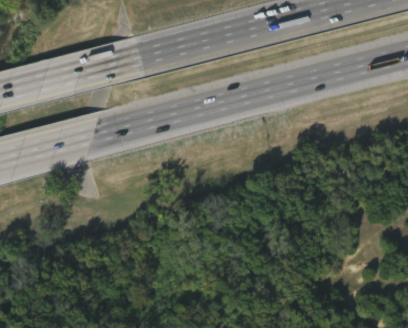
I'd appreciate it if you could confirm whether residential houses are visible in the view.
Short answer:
No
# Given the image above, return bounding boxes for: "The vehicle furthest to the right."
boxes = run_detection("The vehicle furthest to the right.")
[368,54,408,70]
